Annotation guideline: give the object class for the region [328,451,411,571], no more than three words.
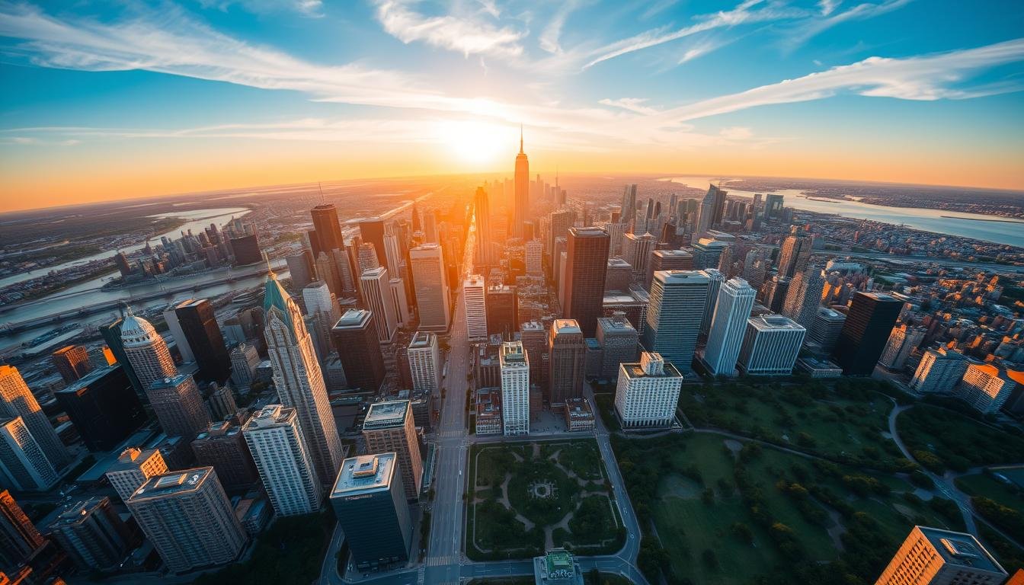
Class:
building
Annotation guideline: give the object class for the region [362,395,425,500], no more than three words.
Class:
building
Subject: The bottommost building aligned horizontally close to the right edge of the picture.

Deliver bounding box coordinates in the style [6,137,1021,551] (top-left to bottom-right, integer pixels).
[884,526,1009,585]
